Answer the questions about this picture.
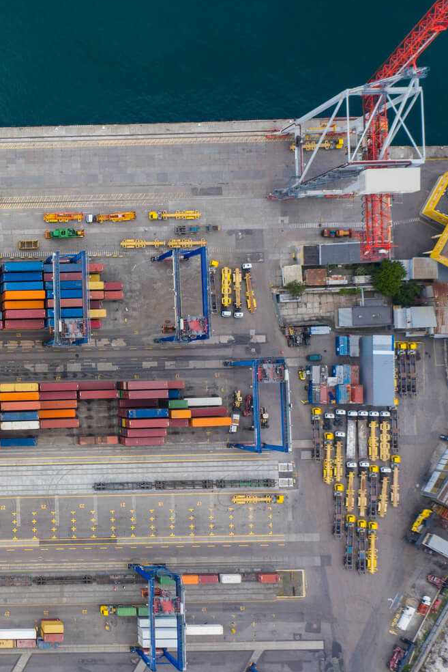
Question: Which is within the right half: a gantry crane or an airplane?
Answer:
gantry crane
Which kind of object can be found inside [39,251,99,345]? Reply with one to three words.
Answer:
container crane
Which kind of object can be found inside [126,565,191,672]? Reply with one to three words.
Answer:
container crane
